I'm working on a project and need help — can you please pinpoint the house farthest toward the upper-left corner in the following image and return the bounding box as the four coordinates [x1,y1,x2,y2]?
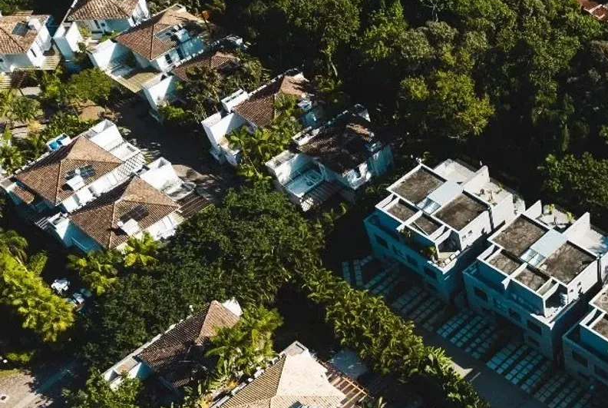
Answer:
[0,10,67,103]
